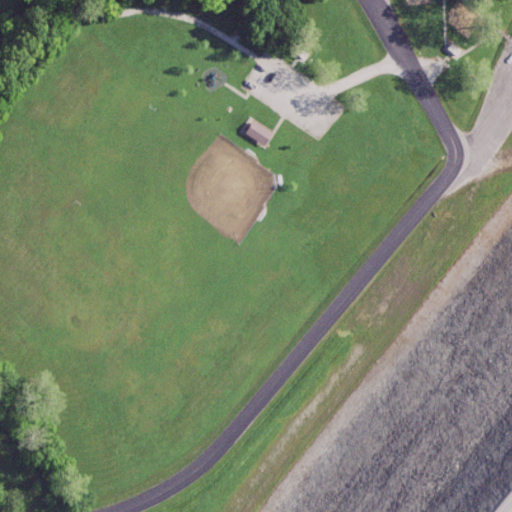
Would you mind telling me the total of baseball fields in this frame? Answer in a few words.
one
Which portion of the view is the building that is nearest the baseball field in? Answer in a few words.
top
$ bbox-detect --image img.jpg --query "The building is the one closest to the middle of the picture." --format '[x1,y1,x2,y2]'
[243,118,274,146]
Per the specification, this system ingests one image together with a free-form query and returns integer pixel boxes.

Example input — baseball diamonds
[186,132,277,243]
